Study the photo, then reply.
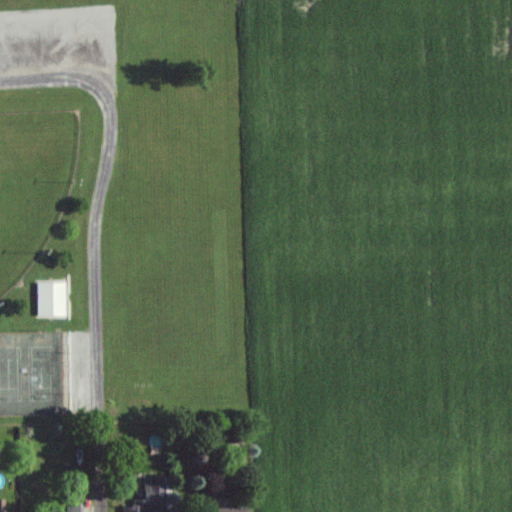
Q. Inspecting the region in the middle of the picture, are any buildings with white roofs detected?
No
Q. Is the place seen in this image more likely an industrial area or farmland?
farmland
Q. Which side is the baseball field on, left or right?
left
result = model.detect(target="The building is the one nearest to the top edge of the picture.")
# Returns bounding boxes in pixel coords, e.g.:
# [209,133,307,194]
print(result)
[38,280,67,318]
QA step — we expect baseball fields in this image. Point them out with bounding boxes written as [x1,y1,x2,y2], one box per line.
[0,110,81,301]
